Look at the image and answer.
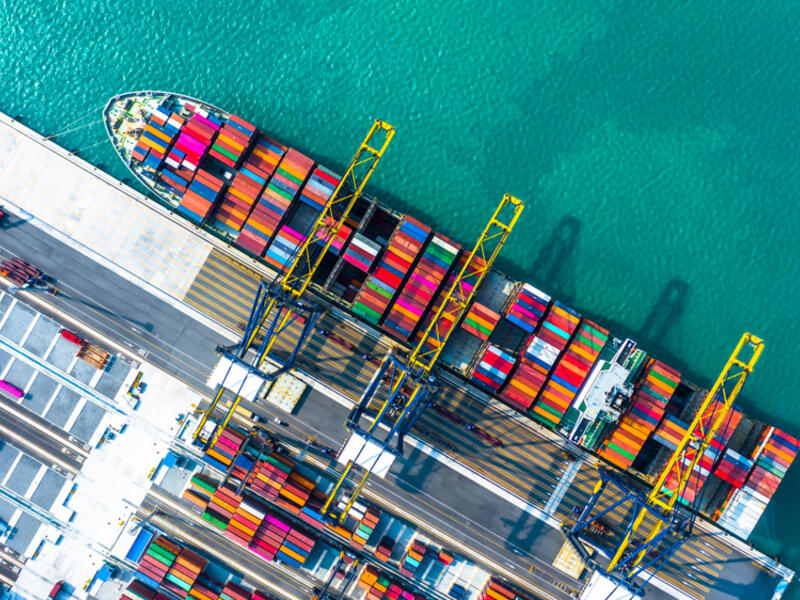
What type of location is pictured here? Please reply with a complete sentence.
It's a port.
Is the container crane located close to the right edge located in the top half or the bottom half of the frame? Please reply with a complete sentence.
The container crane located close to the right edge is in the bottom half of the image.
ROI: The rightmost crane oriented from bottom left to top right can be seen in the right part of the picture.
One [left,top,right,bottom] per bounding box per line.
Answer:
[559,334,766,600]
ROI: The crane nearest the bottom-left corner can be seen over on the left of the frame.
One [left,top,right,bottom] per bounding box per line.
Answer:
[220,428,274,495]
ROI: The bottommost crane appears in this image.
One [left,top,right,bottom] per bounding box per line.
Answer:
[313,538,362,600]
